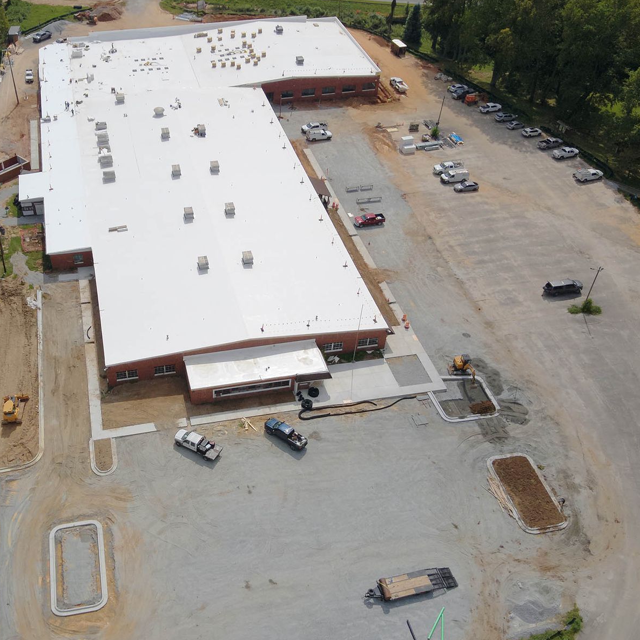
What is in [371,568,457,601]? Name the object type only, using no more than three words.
trailer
